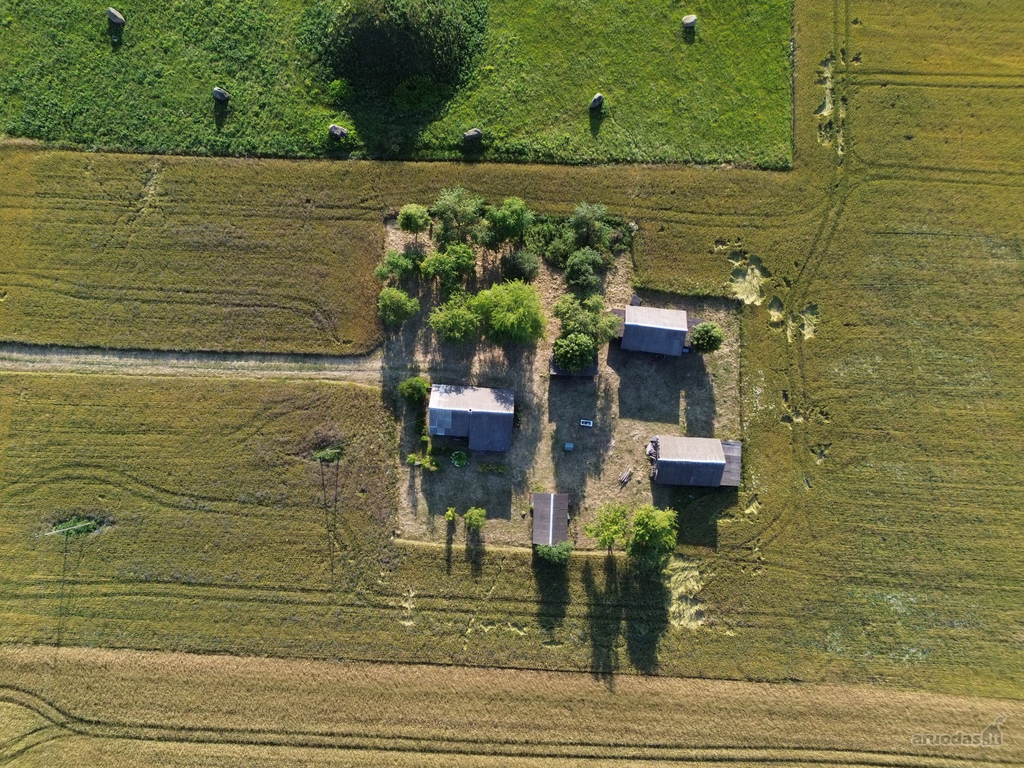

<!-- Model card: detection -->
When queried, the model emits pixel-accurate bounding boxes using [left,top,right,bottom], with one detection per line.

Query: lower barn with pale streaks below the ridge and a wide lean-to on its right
[651,435,741,487]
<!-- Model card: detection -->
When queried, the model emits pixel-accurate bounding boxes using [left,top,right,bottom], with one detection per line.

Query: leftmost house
[428,384,515,457]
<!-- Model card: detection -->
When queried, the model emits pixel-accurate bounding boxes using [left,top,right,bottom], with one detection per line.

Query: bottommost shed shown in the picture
[531,491,570,546]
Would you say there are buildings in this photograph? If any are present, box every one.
[548,340,599,378]
[428,384,515,457]
[608,305,697,354]
[531,491,570,546]
[651,435,741,487]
